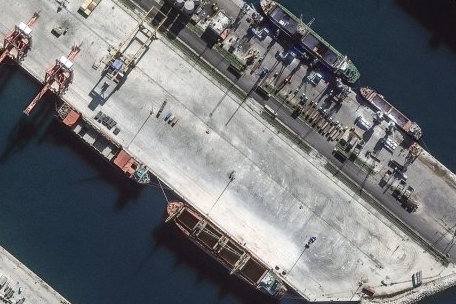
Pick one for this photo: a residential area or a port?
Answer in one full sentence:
The picture captures a port.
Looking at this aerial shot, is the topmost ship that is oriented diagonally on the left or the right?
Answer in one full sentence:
The topmost ship that is oriented diagonally appears in the right half of the scene.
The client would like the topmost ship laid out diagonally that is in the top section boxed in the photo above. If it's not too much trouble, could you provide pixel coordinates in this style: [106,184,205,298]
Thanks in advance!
[262,2,361,85]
